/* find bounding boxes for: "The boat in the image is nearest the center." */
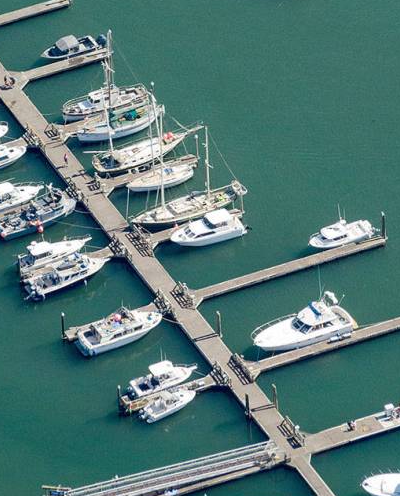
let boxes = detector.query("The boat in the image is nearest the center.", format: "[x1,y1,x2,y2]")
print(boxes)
[172,210,254,246]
